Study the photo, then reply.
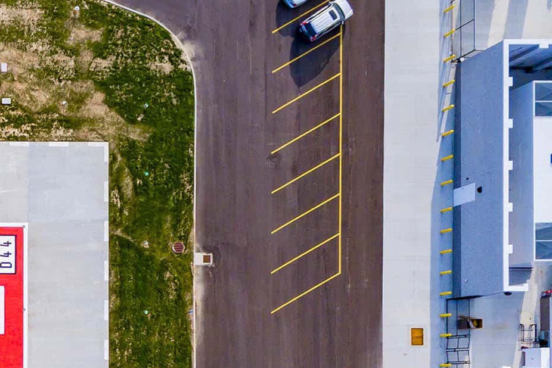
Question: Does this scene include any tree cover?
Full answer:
No, the scene doesn't show any tree cover.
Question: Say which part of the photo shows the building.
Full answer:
The building sits in the right section of the image.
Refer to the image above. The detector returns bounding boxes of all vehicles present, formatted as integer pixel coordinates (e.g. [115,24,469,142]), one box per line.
[283,0,307,8]
[294,0,356,43]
